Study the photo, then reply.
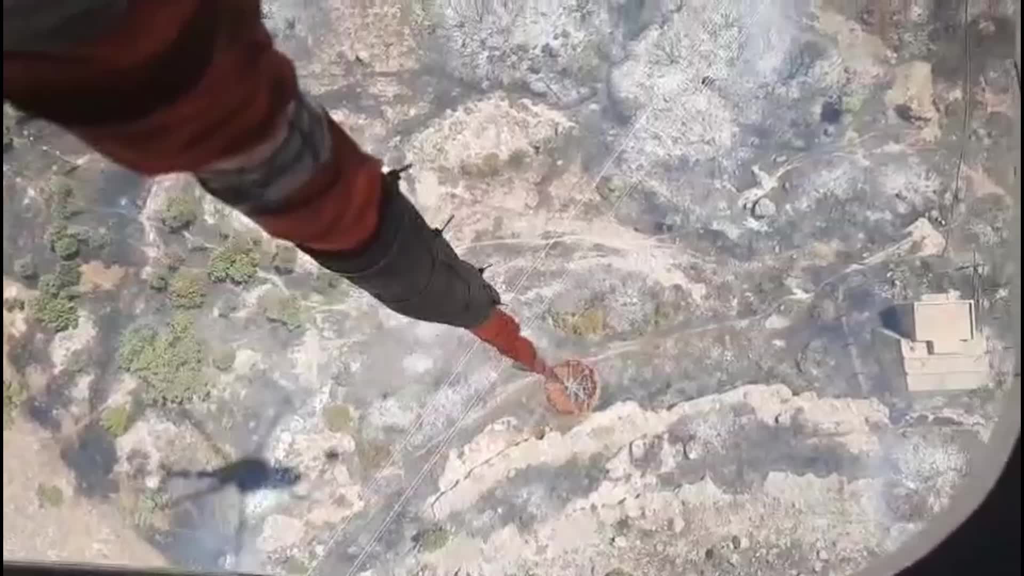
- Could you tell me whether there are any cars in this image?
No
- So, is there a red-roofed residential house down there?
No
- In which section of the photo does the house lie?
right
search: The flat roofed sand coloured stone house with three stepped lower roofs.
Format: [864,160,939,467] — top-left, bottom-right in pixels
[895,290,991,391]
